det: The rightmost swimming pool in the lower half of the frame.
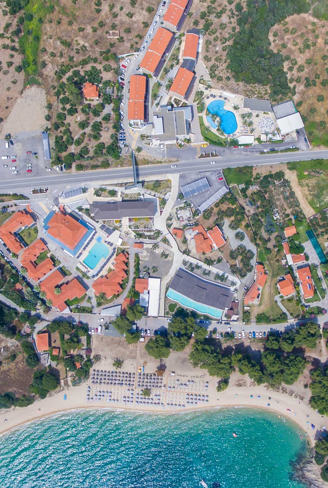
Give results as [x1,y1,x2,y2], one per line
[168,288,222,317]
